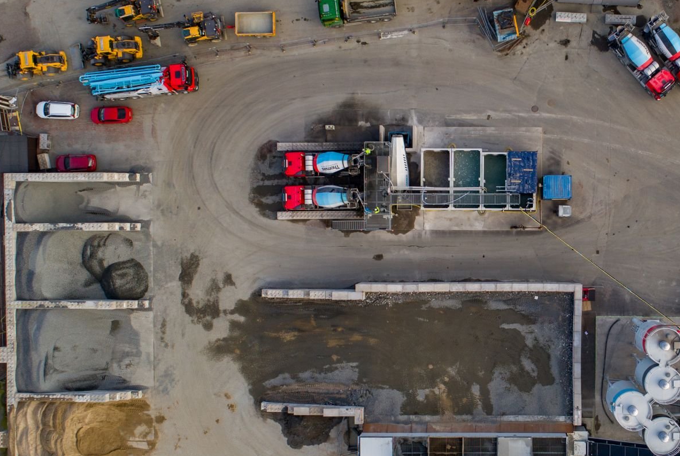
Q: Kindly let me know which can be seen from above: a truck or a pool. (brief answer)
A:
truck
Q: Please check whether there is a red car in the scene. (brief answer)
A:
Yes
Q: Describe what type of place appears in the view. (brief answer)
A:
industrial area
